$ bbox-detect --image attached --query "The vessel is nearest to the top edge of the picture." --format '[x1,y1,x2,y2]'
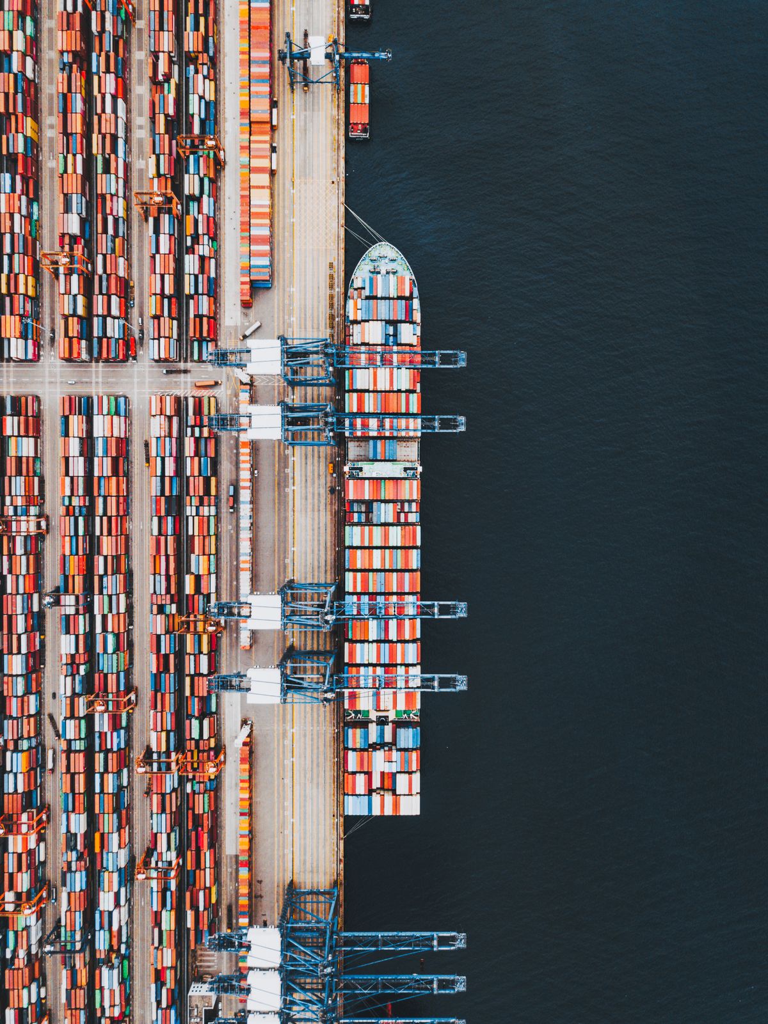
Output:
[351,0,373,26]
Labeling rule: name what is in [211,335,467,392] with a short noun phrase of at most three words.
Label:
container crane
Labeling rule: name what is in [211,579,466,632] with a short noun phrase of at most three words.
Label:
container crane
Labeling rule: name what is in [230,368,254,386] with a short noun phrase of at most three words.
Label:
work vehicle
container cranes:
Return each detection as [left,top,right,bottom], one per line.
[213,969,464,1024]
[211,335,467,392]
[212,924,464,1023]
[211,400,467,451]
[0,514,48,534]
[87,688,136,715]
[177,134,224,166]
[211,579,466,632]
[0,998,50,1024]
[134,189,182,219]
[42,587,88,609]
[135,847,185,883]
[212,883,465,976]
[83,0,133,22]
[41,918,90,955]
[135,747,184,776]
[279,24,389,89]
[179,746,224,776]
[41,250,90,277]
[0,804,50,839]
[211,646,466,705]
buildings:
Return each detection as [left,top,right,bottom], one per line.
[188,983,217,1024]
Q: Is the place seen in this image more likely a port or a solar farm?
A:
port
